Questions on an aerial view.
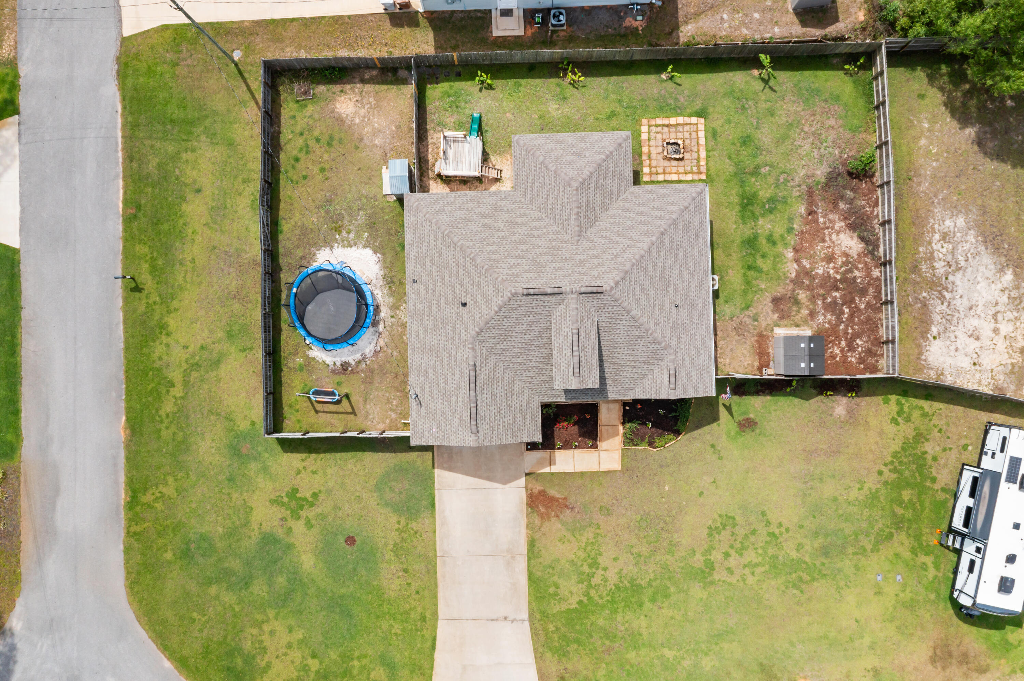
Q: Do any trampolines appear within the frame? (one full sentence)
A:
Yes, the image includes a trampoline.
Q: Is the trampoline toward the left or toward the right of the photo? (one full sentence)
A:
It is on the left.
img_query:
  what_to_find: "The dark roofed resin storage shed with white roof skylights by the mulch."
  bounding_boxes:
[774,336,824,375]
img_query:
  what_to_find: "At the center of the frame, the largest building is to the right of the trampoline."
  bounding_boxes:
[404,131,717,449]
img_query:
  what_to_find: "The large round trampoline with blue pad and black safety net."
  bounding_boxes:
[280,260,379,351]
